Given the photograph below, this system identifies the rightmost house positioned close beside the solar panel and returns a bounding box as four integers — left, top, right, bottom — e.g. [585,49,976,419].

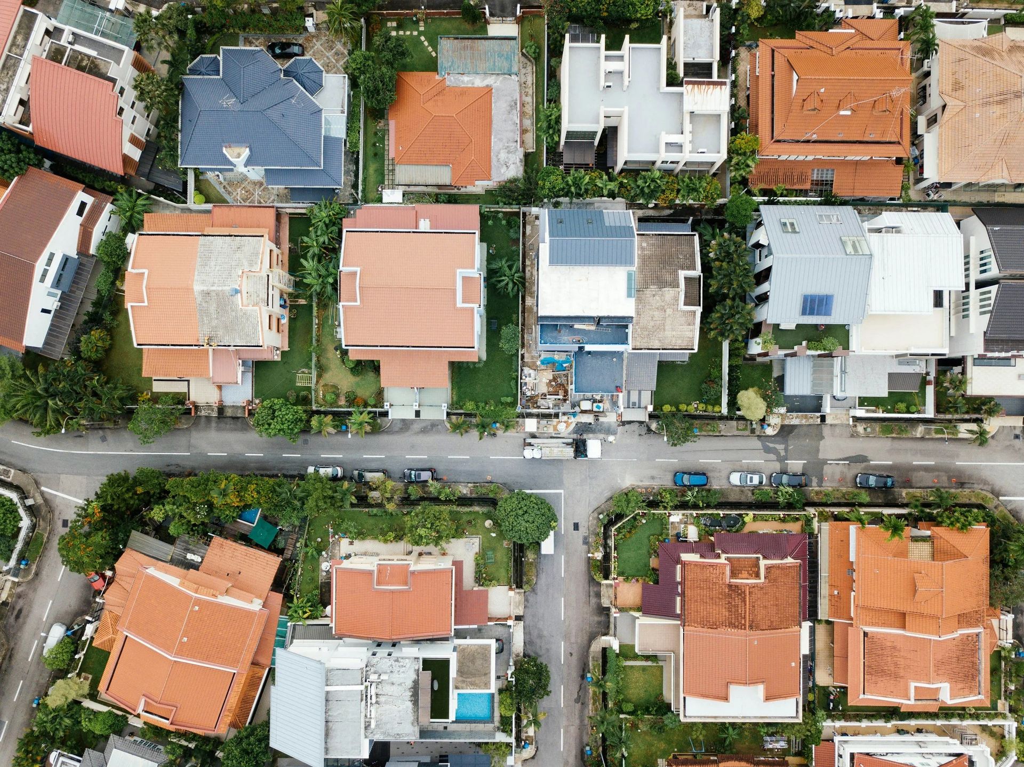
[838,212,965,396]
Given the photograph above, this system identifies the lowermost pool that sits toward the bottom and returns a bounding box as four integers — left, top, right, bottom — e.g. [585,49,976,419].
[456,693,491,720]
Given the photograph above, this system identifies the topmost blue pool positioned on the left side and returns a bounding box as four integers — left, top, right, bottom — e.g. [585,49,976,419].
[236,507,259,526]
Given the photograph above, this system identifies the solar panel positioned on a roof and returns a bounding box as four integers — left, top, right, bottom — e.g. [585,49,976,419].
[801,294,833,316]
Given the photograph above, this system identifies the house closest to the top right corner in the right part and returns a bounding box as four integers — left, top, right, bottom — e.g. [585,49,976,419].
[909,31,1024,190]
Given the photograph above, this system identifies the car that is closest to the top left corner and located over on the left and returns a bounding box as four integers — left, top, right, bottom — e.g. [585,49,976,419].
[268,41,305,59]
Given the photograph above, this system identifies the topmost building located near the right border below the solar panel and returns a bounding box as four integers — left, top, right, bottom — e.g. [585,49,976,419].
[817,522,1001,712]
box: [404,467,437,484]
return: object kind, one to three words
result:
car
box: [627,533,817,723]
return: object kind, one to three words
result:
house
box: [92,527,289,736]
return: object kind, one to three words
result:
house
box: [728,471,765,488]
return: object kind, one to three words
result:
car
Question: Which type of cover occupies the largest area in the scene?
buildings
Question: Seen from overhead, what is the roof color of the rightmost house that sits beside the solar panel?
white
